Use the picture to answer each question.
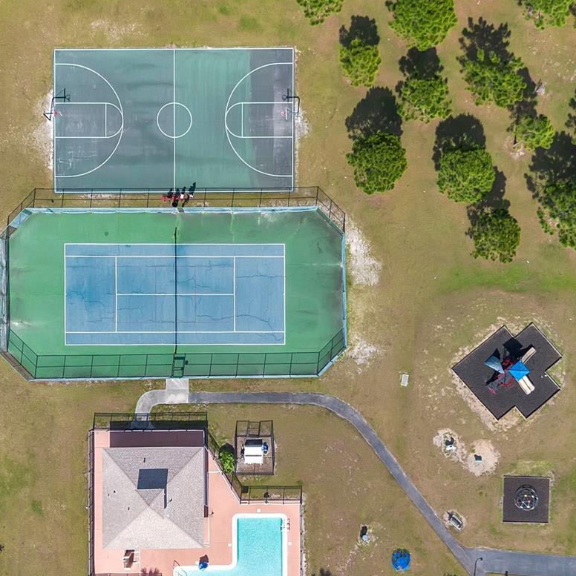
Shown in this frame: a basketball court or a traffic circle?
basketball court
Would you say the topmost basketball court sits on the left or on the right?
left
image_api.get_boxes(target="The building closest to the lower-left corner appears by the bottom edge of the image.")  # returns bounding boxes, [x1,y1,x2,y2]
[103,446,211,548]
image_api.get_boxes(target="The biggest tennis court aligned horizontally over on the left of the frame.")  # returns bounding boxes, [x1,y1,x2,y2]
[8,210,343,377]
